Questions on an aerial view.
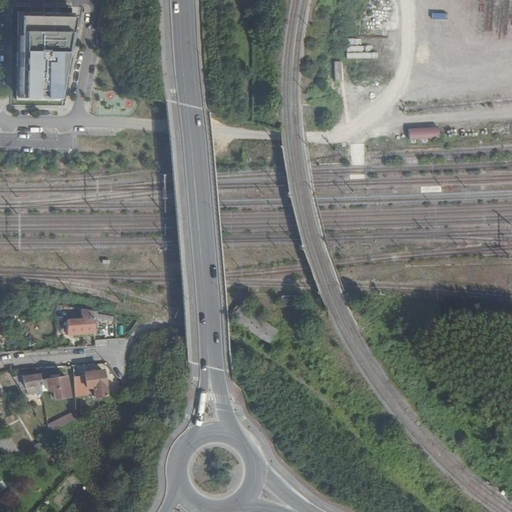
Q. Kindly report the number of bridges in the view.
2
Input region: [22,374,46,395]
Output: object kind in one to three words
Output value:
house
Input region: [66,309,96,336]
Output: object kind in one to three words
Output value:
house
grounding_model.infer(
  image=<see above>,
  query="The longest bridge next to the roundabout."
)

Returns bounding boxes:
[165,97,230,376]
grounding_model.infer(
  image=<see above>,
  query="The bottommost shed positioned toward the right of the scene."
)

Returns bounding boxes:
[410,126,441,139]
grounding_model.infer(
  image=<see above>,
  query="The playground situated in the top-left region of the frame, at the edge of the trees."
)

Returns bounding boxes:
[95,90,136,116]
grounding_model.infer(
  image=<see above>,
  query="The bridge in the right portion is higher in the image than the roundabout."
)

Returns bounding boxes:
[280,127,347,308]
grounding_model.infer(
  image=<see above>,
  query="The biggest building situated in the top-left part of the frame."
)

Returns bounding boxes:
[12,12,78,106]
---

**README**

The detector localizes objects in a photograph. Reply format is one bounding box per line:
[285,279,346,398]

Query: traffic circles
[148,366,356,512]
